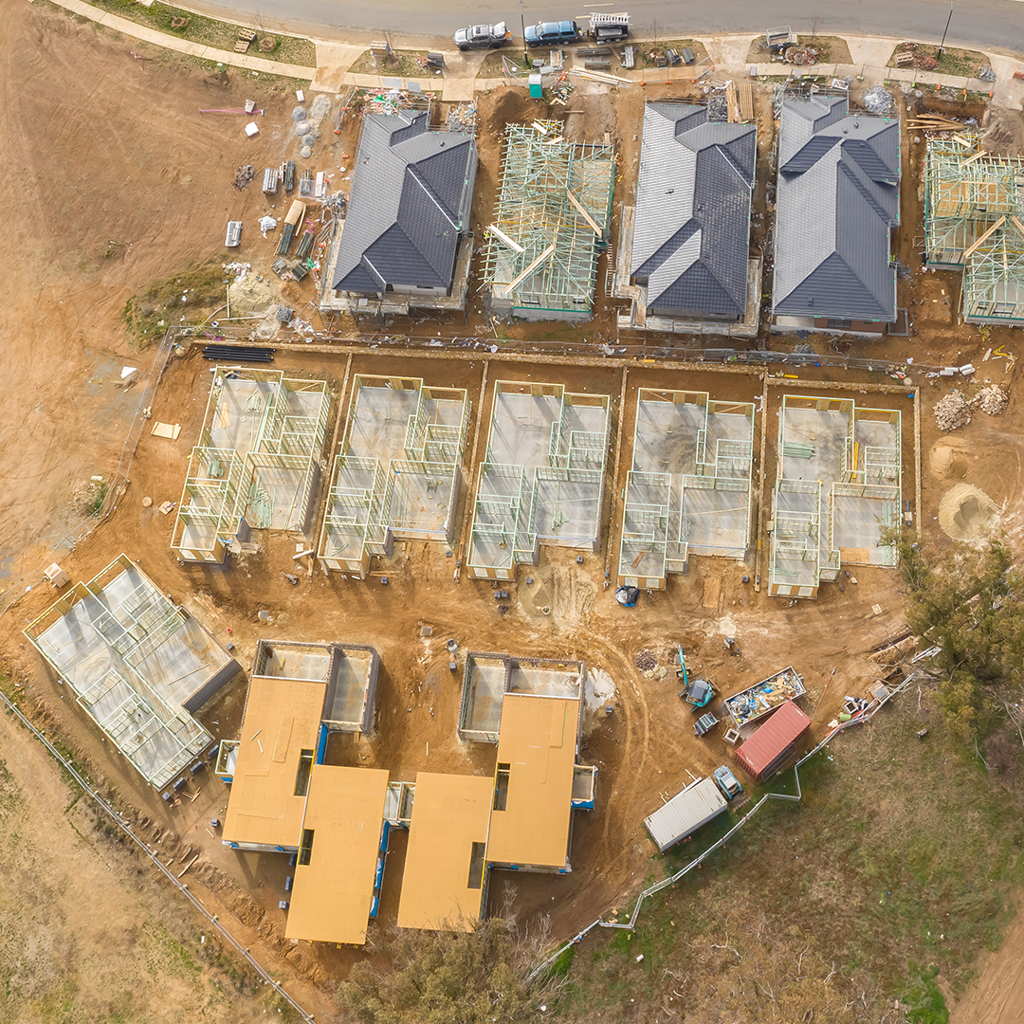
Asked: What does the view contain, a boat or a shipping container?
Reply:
shipping container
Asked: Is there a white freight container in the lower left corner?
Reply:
No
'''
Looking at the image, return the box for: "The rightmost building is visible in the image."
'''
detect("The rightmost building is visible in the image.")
[923,123,1024,332]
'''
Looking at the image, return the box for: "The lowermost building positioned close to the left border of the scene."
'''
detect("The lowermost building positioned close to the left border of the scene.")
[23,559,236,793]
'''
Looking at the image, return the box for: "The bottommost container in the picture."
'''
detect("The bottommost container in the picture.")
[642,776,729,856]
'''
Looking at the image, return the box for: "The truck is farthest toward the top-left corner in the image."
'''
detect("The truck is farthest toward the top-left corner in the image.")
[452,21,512,51]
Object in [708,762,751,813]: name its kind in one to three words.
work vehicle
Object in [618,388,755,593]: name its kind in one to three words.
house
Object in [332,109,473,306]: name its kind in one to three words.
house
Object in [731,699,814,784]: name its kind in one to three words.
shipping container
